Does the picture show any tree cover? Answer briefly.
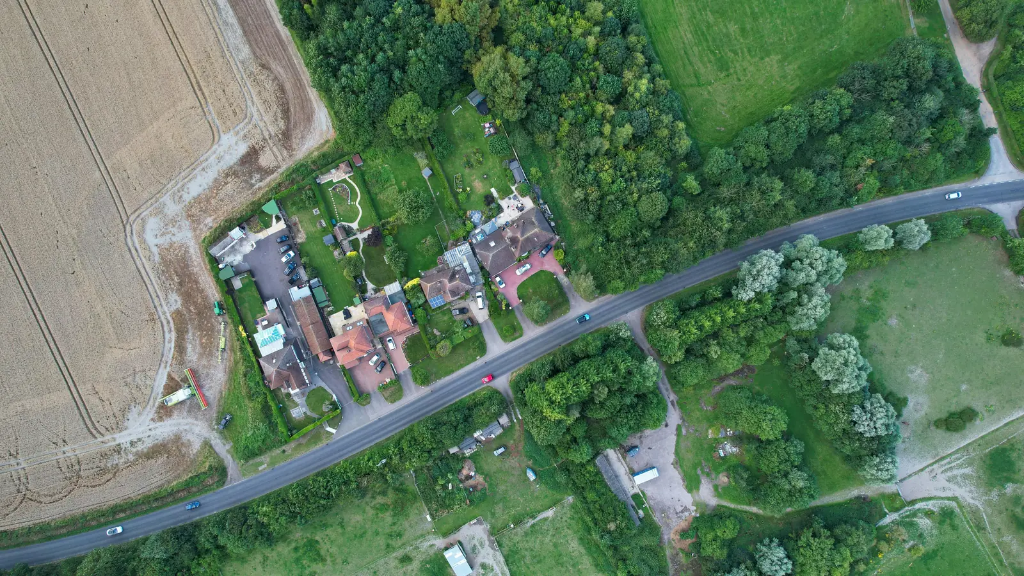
Yes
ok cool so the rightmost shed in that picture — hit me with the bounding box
[596,455,640,525]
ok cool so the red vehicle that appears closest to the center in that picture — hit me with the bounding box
[479,373,496,385]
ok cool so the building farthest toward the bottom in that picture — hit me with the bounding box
[444,541,472,576]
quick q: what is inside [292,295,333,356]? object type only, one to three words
barn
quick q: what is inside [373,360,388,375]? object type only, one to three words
car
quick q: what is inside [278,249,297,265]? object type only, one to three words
vehicle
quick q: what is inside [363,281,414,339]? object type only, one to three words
house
